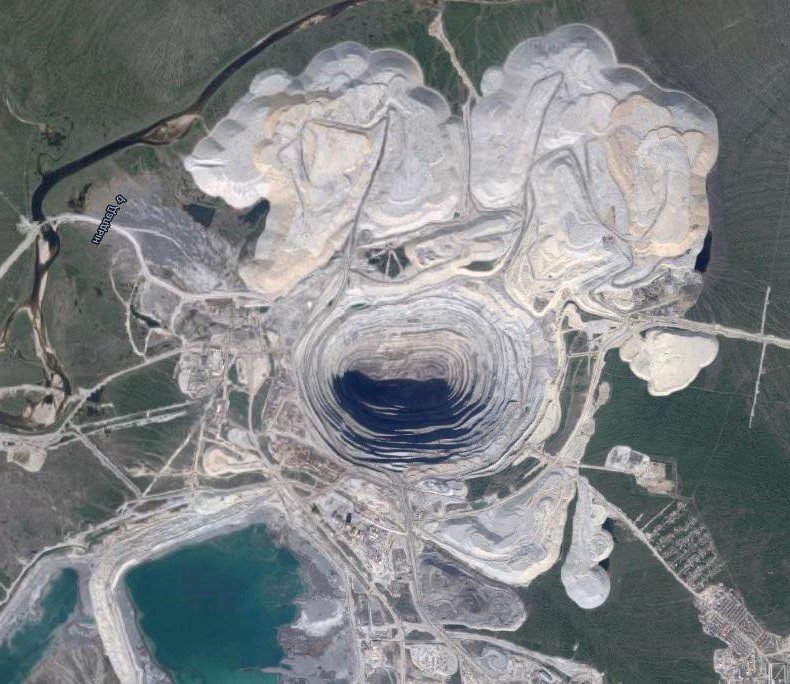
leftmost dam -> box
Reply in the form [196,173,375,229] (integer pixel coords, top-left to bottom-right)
[0,552,87,628]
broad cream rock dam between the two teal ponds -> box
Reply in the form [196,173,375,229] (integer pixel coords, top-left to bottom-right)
[89,485,272,684]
